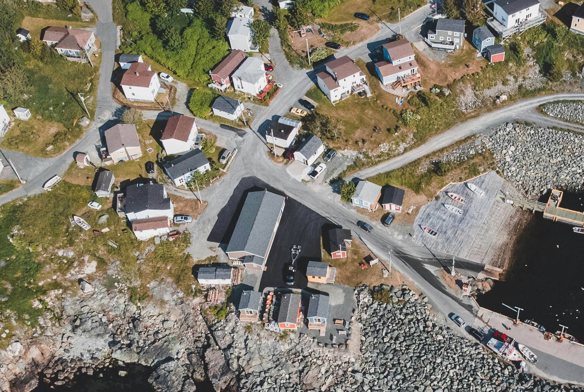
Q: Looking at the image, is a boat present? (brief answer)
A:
Yes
